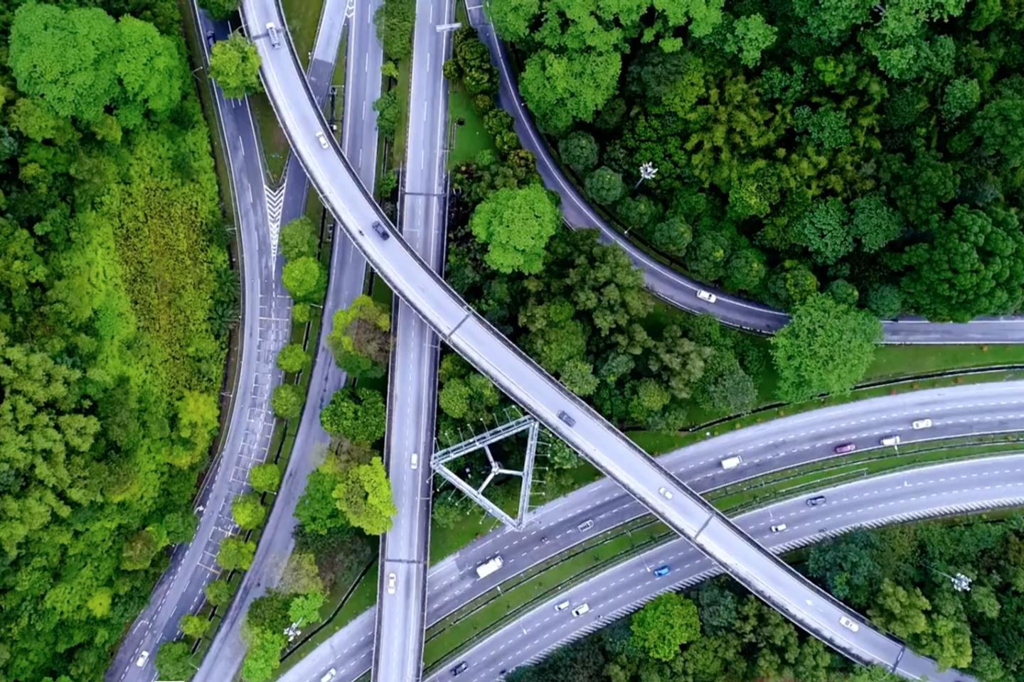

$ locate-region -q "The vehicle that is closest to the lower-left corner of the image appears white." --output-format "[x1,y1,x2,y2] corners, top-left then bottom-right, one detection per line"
[137,650,150,667]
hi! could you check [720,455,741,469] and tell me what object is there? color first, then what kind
white vehicle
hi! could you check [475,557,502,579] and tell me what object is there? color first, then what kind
white truck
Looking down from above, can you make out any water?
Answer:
No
